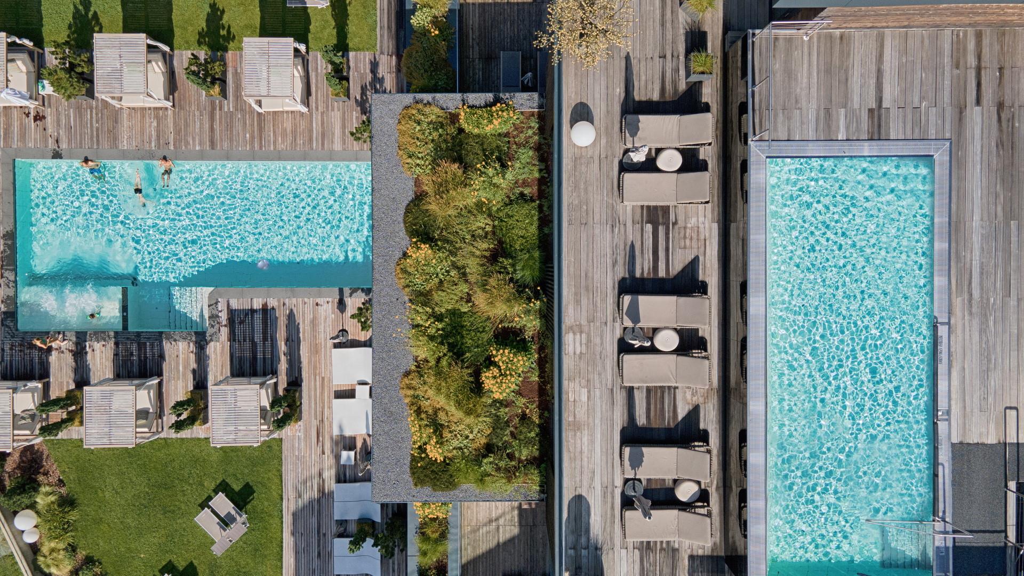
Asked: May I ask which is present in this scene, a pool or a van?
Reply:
pool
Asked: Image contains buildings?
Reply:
Yes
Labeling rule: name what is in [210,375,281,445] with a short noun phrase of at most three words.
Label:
building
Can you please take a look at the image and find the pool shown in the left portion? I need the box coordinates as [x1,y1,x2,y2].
[16,159,372,331]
